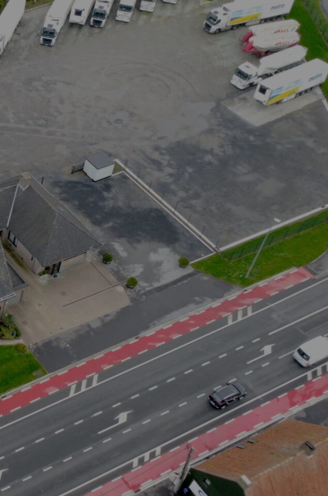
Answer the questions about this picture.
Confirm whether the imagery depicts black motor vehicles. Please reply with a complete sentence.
Yes, a black motor vehicle can be made out from above.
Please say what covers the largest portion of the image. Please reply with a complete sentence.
For the most part, this view shows paved ground.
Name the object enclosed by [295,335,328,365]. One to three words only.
van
